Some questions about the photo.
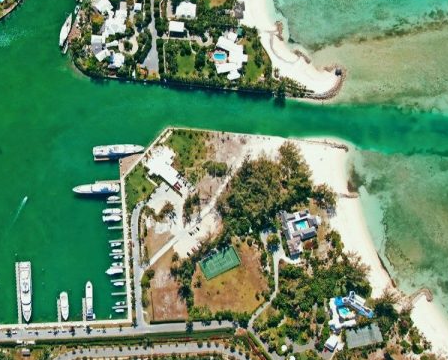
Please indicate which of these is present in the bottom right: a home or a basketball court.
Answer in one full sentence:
You can see a home in the bottom right.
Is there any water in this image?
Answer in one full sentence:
Yes, water shows up in the scene.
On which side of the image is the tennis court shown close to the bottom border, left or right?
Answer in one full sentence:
The tennis court shown close to the bottom border is on the right side of the image.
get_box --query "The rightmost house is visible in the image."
[350,292,377,319]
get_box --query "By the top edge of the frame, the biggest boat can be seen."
[59,14,74,48]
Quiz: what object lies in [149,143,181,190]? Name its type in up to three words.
building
